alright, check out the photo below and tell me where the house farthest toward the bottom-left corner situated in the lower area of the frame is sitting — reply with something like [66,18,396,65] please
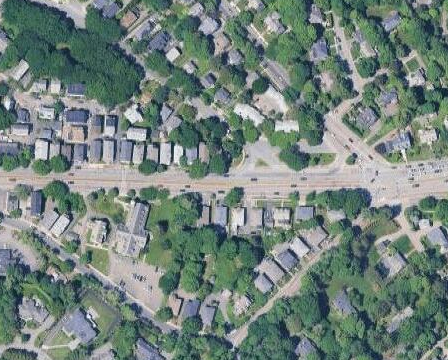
[18,293,52,326]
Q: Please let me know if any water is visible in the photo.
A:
No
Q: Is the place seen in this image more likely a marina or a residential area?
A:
residential area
